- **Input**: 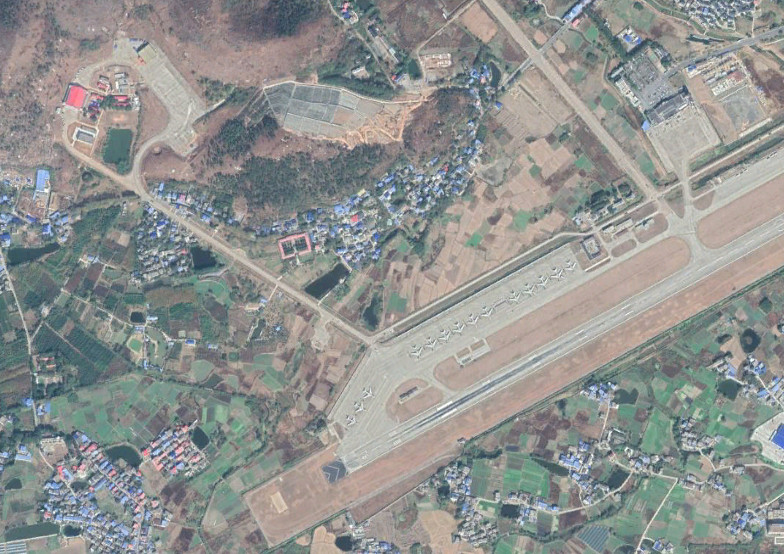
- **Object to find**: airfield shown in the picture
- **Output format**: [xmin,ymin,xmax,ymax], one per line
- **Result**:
[243,105,784,548]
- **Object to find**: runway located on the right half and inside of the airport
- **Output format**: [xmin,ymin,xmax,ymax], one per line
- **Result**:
[339,212,784,474]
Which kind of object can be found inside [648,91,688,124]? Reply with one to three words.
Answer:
building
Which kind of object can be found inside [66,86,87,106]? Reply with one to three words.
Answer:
building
